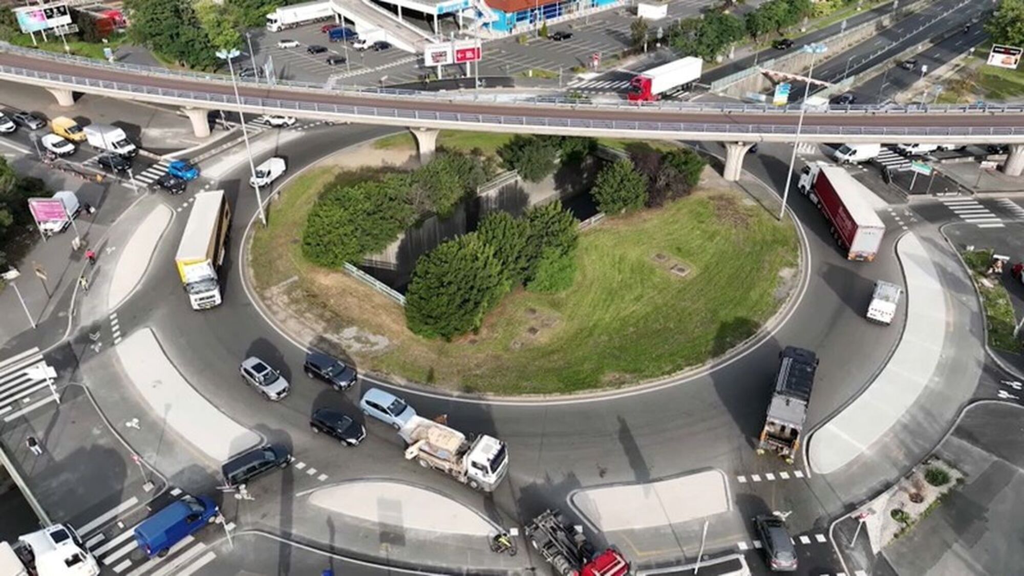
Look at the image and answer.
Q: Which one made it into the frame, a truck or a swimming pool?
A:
truck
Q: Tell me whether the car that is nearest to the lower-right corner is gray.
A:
Yes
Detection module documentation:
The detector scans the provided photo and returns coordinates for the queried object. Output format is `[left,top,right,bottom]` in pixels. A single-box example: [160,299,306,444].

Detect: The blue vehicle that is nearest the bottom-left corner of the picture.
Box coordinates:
[134,494,218,554]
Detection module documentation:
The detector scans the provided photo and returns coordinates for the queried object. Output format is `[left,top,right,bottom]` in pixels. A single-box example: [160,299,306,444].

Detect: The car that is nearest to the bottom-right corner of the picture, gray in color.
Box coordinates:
[755,514,798,572]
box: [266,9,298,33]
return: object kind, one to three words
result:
vehicle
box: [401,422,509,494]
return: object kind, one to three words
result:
truck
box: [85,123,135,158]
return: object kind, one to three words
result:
van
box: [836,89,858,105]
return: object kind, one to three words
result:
car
